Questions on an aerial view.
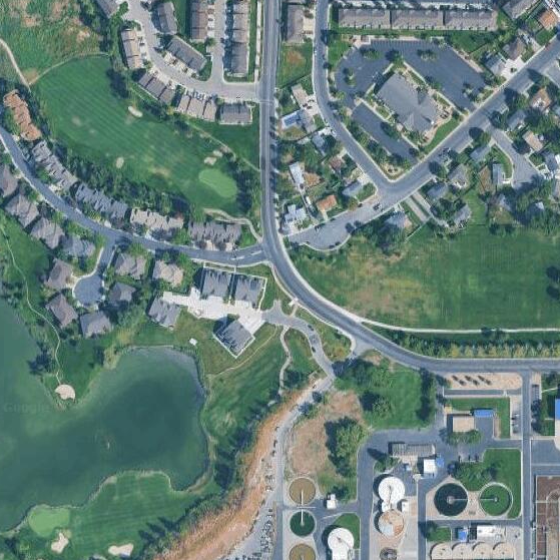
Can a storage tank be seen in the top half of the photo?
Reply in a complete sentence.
No, I see no storage tank in the top half of the photo.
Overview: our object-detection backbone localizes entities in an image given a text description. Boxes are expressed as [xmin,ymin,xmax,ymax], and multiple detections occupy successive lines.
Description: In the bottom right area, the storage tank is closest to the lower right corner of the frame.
[476,484,511,516]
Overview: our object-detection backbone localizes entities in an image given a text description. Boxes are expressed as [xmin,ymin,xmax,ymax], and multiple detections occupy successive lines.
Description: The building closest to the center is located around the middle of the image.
[234,275,265,304]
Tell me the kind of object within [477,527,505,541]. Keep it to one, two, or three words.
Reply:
building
